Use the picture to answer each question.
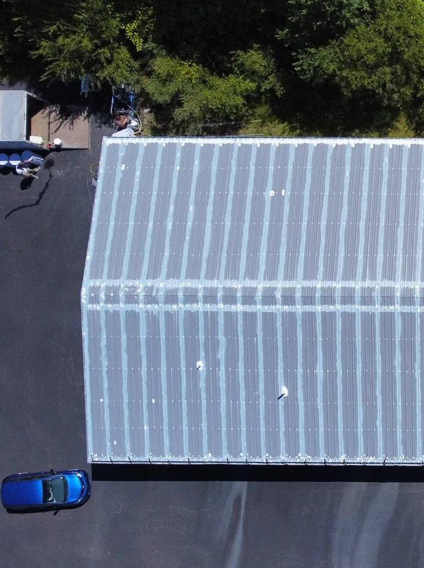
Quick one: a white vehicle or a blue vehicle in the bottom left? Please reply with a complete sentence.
What appears in the bottom left is a blue vehicle.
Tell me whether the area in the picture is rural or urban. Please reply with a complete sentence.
The area is urban.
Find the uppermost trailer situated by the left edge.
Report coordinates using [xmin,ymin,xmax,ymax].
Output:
[0,91,100,156]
